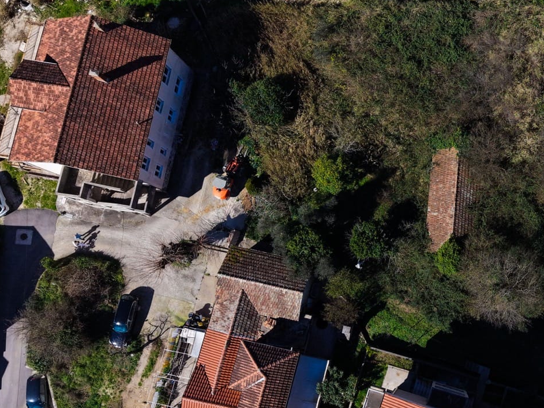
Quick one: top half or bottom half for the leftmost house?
top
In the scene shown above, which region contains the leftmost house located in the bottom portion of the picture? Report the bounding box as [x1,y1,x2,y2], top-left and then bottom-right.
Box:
[181,244,310,408]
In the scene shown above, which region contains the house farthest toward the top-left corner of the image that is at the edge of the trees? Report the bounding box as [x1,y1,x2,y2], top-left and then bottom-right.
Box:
[0,14,190,219]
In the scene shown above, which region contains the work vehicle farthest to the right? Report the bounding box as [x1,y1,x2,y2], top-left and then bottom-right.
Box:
[207,158,243,201]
